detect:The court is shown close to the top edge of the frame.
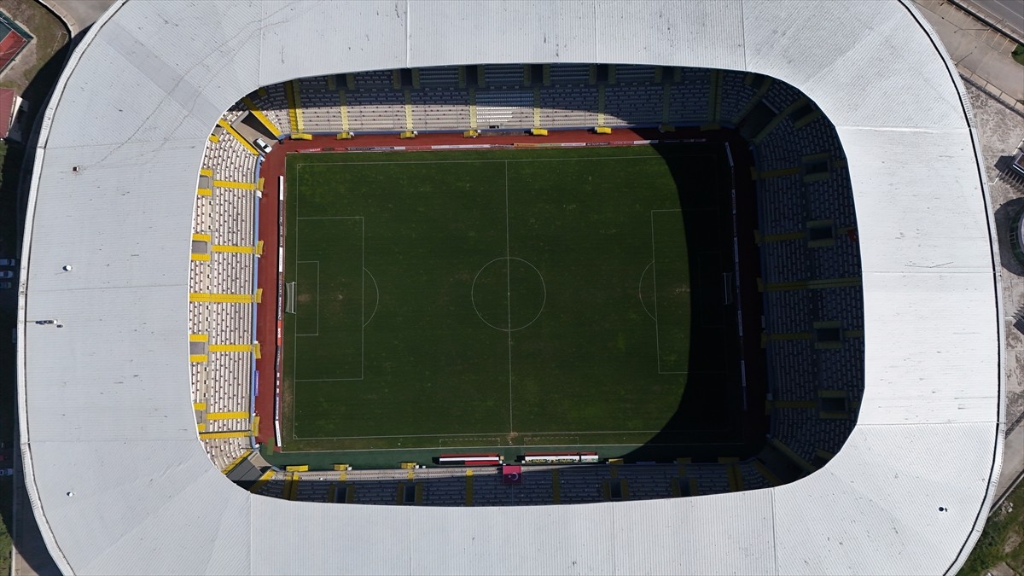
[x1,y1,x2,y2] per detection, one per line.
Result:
[0,10,38,81]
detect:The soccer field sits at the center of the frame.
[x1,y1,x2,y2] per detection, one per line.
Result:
[279,143,745,453]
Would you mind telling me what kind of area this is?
sports ground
